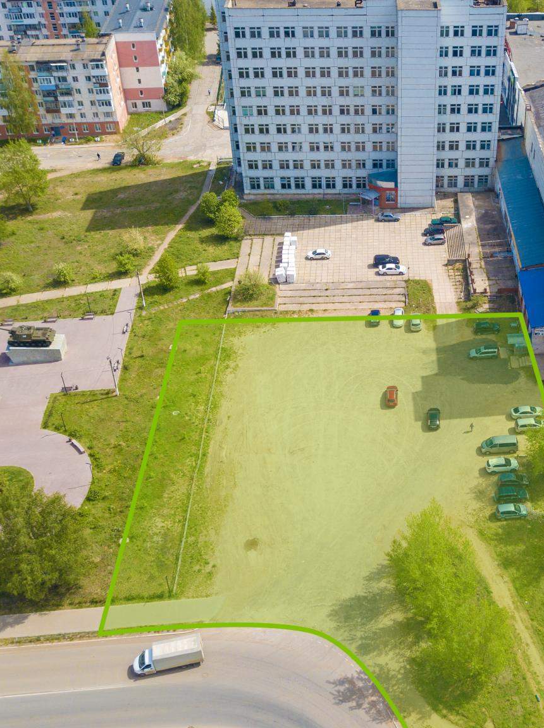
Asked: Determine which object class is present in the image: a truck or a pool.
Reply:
truck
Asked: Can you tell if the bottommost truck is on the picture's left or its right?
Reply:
left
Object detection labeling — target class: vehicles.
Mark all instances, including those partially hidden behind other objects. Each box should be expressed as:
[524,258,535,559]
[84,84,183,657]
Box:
[484,455,520,474]
[513,415,544,433]
[369,311,380,327]
[134,628,206,672]
[494,503,529,521]
[422,224,446,236]
[378,263,407,276]
[510,404,544,419]
[425,408,442,432]
[306,248,333,260]
[493,483,531,502]
[384,388,398,408]
[479,434,519,454]
[391,308,404,328]
[430,215,456,225]
[372,253,401,264]
[376,211,401,222]
[423,234,447,245]
[493,471,531,487]
[110,153,127,164]
[409,314,422,333]
[0,324,53,352]
[472,319,501,334]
